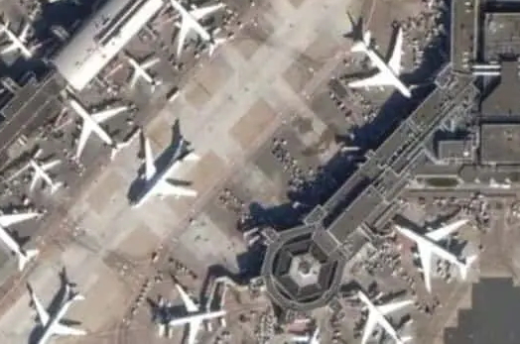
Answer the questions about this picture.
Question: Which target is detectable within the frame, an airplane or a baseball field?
airplane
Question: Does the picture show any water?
No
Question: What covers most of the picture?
paved ground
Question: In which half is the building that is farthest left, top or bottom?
top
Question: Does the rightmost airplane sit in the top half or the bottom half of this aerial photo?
bottom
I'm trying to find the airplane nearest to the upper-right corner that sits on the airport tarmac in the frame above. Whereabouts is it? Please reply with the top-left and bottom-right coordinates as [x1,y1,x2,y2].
[346,33,409,96]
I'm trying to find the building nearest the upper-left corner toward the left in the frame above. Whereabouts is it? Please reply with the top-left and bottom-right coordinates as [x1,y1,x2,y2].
[55,0,161,87]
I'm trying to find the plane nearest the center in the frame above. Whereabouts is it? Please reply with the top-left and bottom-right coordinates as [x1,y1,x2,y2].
[131,142,198,208]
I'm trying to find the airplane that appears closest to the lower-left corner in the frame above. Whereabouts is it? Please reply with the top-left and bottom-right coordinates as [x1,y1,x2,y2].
[35,289,91,344]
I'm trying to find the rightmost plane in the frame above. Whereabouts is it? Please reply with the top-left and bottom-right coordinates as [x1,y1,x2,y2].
[394,218,473,288]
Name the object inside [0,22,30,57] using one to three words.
airplane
